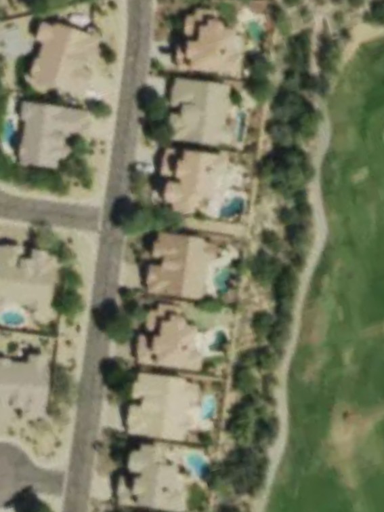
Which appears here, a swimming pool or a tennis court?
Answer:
swimming pool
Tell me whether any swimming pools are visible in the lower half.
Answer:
Yes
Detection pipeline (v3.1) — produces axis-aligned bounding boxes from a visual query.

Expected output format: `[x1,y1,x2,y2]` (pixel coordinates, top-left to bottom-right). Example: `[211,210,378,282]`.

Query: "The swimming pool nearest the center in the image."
[214,268,232,296]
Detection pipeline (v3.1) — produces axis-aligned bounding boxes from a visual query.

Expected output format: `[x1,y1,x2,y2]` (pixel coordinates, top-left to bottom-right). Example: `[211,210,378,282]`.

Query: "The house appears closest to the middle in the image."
[143,232,207,299]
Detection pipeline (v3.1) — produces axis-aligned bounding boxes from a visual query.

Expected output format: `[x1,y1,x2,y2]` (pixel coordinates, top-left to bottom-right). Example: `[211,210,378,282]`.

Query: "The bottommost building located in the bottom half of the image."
[115,444,185,511]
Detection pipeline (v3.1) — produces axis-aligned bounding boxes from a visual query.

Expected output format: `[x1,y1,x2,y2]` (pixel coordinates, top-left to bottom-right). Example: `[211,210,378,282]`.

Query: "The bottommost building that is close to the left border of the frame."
[0,353,48,418]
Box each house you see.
[128,375,199,442]
[115,444,185,511]
[132,310,197,370]
[0,353,48,418]
[167,77,236,145]
[17,98,91,165]
[165,148,225,211]
[143,232,207,299]
[24,17,100,92]
[175,16,245,76]
[0,247,55,316]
